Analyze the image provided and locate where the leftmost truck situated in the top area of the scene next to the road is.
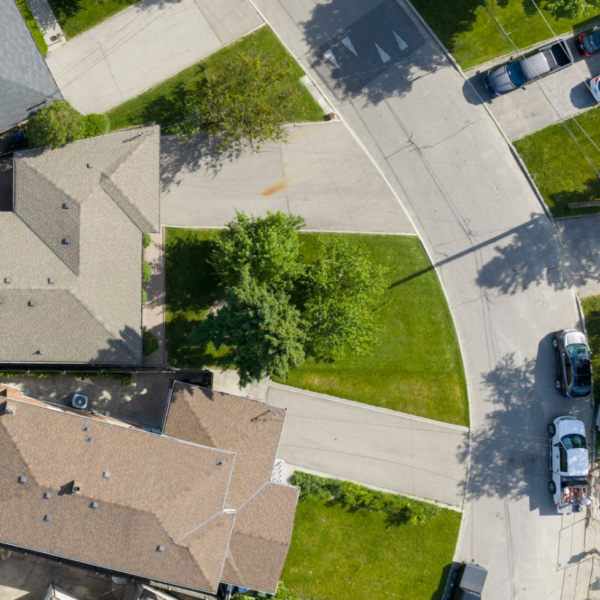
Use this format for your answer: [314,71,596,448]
[478,37,577,97]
